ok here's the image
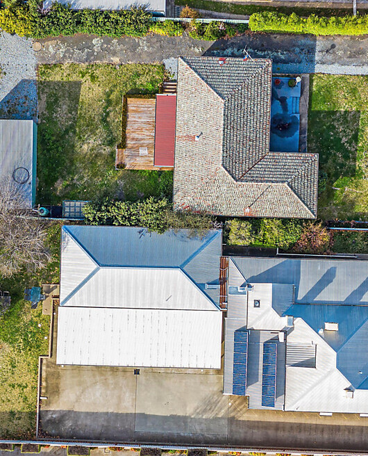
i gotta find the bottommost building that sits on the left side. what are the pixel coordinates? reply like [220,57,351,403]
[60,225,224,312]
